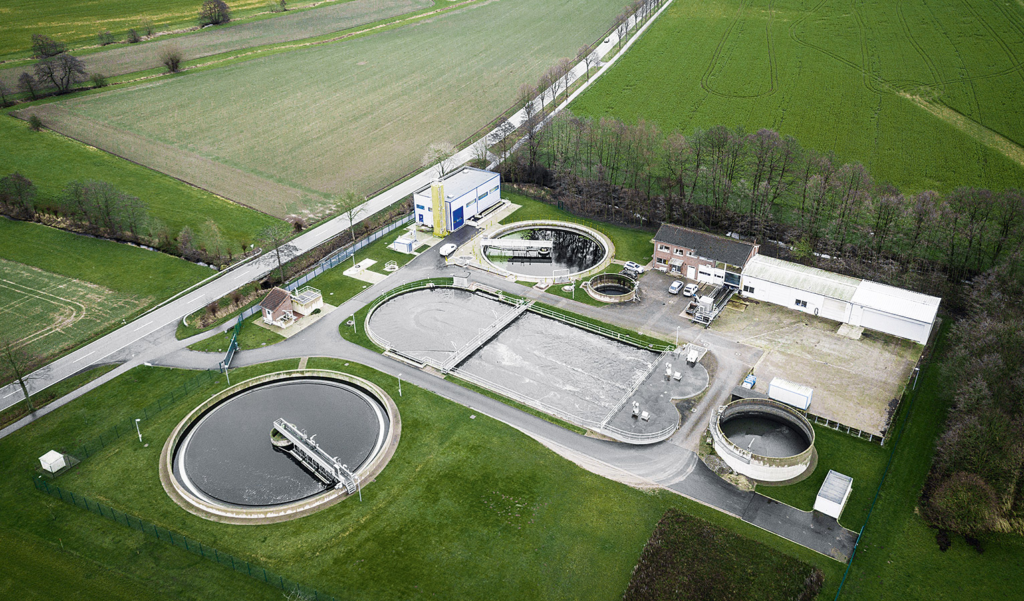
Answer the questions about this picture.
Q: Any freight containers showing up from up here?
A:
Yes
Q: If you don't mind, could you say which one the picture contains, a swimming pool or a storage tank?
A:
storage tank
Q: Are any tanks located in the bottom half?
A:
Yes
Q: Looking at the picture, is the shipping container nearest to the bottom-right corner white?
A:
Yes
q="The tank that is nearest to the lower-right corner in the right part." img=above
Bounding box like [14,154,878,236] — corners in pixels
[707,398,820,489]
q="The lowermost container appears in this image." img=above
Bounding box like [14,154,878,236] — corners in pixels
[771,378,814,410]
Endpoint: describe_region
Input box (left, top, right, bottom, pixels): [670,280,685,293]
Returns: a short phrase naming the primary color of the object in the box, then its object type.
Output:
white vehicle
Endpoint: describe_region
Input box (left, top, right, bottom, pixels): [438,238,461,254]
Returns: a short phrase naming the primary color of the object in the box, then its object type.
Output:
white vehicle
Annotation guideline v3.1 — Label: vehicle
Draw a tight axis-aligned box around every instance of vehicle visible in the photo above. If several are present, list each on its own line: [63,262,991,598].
[686,283,699,295]
[438,238,461,254]
[621,260,644,273]
[617,266,639,279]
[670,280,685,293]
